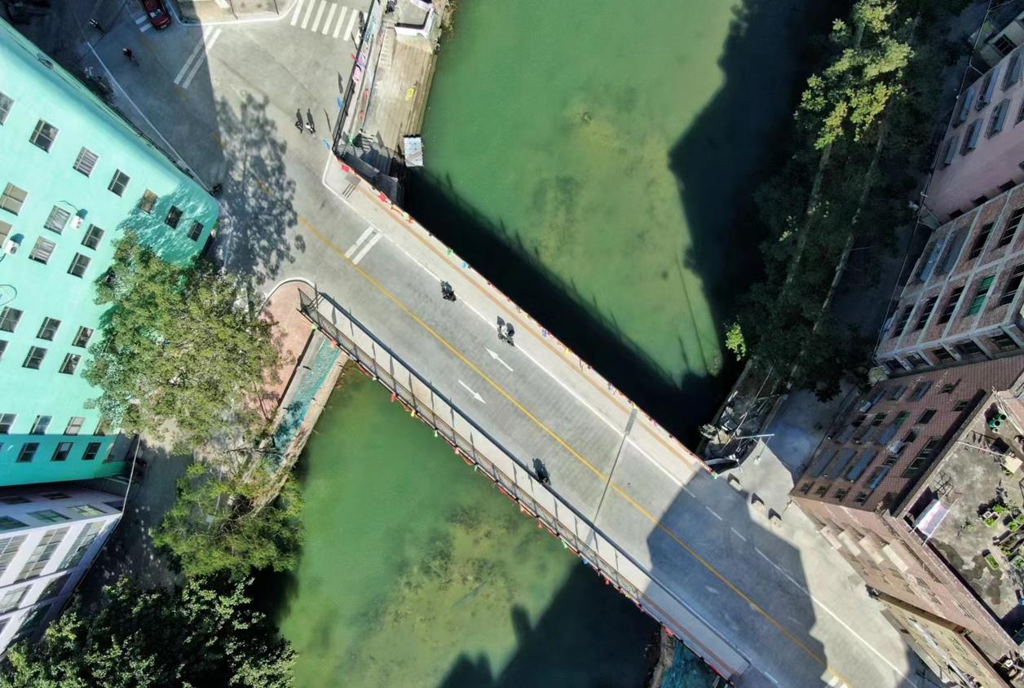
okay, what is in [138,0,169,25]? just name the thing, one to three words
car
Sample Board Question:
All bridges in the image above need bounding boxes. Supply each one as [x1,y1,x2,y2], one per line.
[293,164,818,688]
